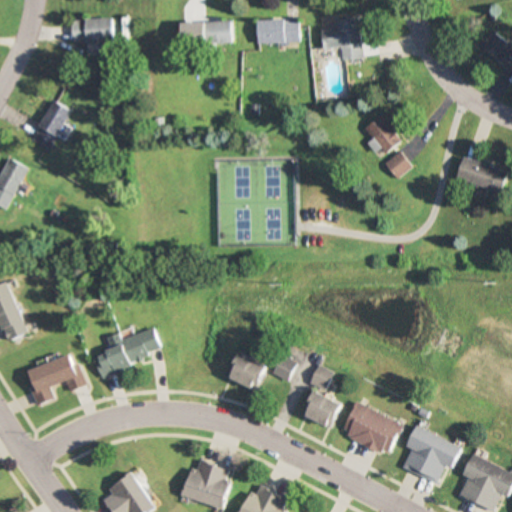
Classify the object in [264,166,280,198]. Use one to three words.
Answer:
sports court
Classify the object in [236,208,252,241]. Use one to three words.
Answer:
sports court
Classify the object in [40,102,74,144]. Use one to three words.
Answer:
house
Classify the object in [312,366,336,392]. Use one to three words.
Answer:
building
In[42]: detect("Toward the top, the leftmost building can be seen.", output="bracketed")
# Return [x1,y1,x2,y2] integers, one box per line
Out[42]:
[0,158,30,212]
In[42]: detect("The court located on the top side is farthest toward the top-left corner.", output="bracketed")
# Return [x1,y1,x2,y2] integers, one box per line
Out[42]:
[236,166,250,198]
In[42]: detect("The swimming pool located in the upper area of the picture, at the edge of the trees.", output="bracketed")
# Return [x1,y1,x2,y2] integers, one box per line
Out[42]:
[312,48,350,102]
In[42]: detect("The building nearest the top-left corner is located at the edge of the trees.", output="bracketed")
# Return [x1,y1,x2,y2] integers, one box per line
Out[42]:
[70,16,116,40]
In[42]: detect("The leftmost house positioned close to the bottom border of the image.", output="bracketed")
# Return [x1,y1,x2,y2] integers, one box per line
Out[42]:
[104,472,157,512]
